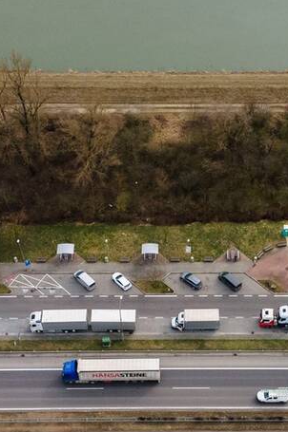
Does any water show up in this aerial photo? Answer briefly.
Yes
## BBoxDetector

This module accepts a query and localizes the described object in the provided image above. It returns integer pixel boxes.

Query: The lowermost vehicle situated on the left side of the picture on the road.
[61,358,160,383]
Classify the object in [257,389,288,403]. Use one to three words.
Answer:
vehicle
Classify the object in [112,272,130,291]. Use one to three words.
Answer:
car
